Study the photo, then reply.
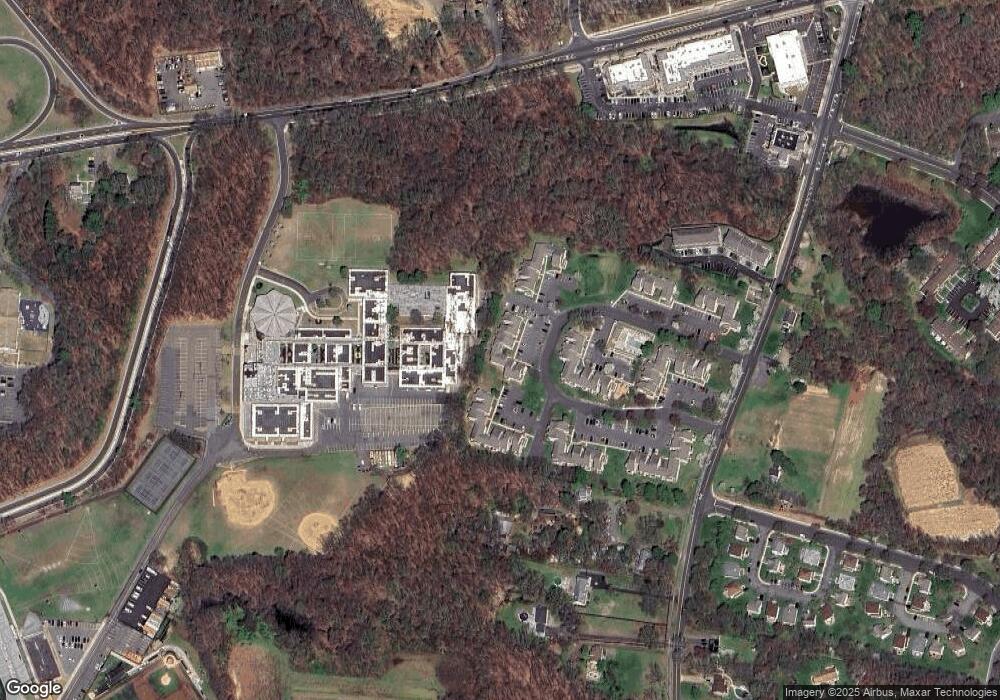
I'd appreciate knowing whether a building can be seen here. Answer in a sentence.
Yes, I can see a building in this picture.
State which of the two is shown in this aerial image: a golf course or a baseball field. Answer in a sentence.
It is a baseball field that can be seen here.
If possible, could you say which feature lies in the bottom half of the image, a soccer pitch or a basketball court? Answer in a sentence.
There is a soccer pitch in the bottom half of the image.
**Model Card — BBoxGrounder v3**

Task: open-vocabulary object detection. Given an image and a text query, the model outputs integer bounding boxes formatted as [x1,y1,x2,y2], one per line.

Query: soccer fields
[289,206,399,268]
[0,494,153,606]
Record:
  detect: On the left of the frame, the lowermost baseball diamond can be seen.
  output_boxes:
[115,647,210,700]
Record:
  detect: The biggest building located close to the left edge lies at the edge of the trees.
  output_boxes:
[21,299,49,332]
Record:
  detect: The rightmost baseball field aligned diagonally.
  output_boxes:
[284,453,386,556]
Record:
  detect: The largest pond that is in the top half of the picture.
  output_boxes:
[845,185,938,253]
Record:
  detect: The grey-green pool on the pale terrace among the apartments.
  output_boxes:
[626,334,645,350]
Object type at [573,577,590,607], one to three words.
house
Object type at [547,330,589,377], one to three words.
building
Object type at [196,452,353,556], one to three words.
baseball field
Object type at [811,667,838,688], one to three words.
house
